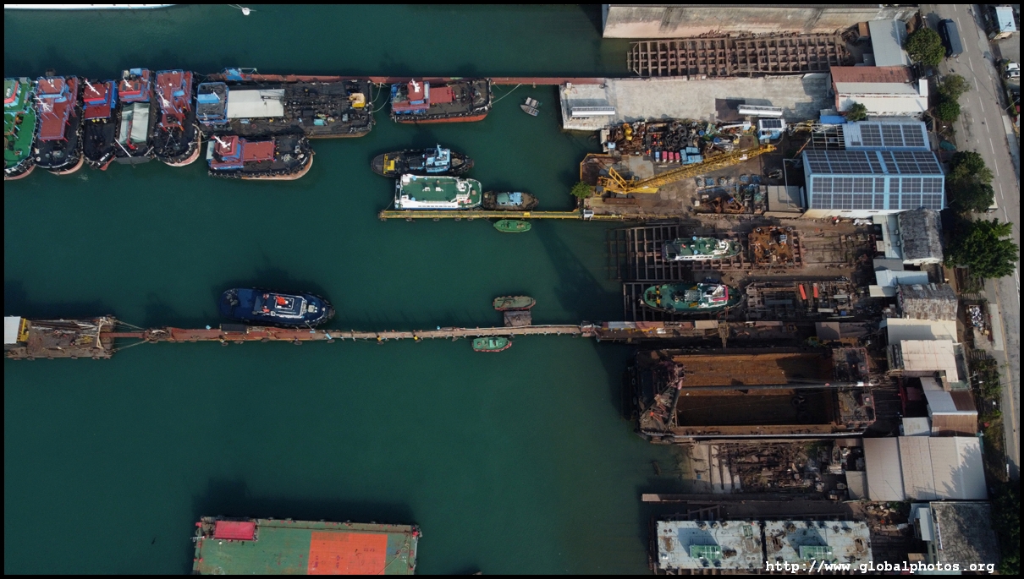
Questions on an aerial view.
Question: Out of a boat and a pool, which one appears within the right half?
boat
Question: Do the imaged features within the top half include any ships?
Yes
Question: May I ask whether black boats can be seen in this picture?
Yes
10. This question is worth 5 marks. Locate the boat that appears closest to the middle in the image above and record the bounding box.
[492,292,536,311]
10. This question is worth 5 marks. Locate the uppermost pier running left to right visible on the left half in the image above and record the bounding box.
[200,71,604,89]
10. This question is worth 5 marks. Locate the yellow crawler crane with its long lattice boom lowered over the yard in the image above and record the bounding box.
[596,144,781,198]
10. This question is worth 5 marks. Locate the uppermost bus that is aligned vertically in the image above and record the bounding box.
[941,21,963,59]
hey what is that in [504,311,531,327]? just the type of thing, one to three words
pier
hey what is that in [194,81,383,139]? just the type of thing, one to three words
ship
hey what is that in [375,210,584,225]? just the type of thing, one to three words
pier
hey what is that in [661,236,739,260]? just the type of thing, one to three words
boat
